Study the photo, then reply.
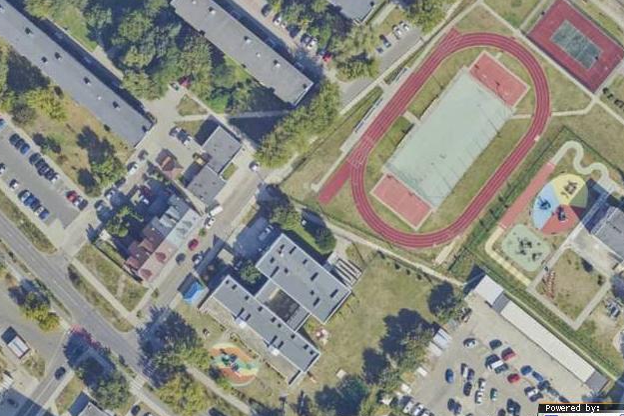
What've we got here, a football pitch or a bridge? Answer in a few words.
football pitch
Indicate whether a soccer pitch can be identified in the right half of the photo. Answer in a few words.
Yes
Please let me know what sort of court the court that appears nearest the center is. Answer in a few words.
basketball court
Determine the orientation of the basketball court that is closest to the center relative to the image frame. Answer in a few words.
diagonally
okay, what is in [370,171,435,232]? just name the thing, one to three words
basketball court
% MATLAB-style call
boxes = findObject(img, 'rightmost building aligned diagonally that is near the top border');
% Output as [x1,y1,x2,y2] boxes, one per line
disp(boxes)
[170,0,313,105]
